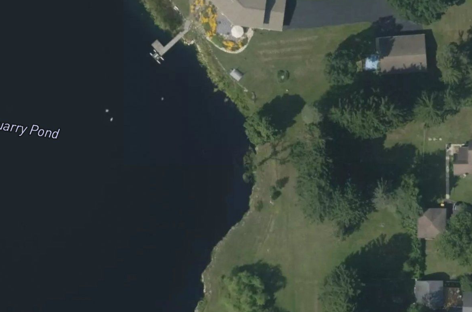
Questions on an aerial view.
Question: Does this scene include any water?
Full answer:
Yes, water can be seen from above here.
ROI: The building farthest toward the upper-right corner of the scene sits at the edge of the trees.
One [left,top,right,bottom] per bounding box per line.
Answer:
[377,34,427,75]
